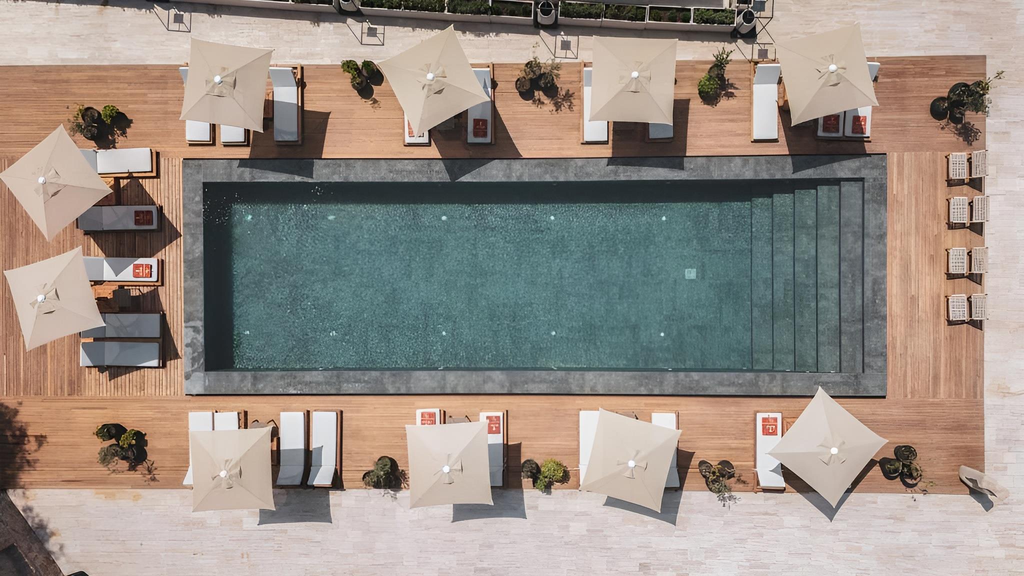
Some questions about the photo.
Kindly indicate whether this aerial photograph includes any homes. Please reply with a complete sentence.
No, this view has no home in it.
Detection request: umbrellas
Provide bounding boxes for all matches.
[187,425,277,515]
[405,420,494,509]
[0,122,114,242]
[773,22,879,127]
[2,246,107,352]
[588,35,679,125]
[578,407,684,513]
[766,386,889,508]
[180,36,273,133]
[378,25,492,142]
